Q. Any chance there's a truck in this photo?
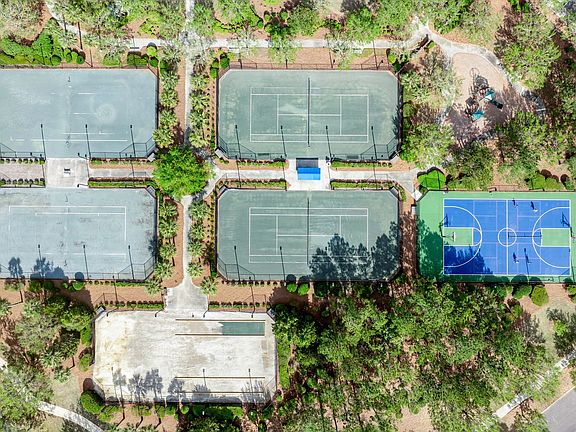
No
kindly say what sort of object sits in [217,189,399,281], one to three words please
tennis court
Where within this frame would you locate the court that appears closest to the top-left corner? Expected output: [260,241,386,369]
[0,69,158,159]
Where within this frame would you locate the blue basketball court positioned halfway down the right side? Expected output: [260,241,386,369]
[420,192,576,281]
